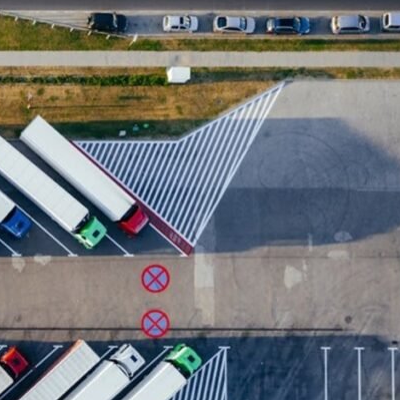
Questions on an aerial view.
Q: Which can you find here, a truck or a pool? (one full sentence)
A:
The one in the frame is a truck.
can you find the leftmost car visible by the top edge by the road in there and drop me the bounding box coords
[87,10,125,32]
